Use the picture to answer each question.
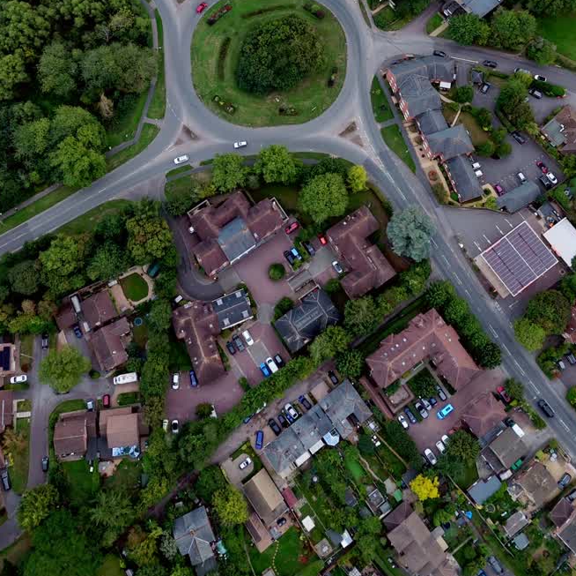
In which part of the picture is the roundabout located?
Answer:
top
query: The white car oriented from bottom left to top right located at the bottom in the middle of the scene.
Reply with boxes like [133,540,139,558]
[238,456,253,470]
